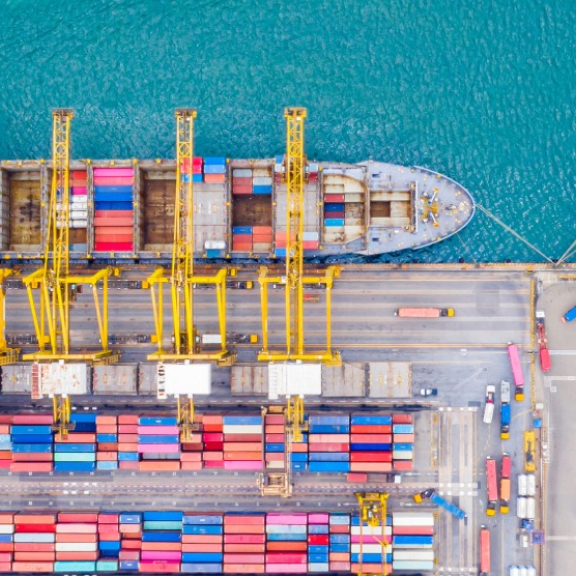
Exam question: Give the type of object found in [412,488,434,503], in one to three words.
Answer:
vehicle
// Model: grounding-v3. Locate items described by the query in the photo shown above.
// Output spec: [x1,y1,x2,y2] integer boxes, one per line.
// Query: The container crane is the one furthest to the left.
[0,268,32,366]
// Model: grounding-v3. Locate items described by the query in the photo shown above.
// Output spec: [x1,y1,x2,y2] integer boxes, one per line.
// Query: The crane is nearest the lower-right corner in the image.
[349,489,394,576]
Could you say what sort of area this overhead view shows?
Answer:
port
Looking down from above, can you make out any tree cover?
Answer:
No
